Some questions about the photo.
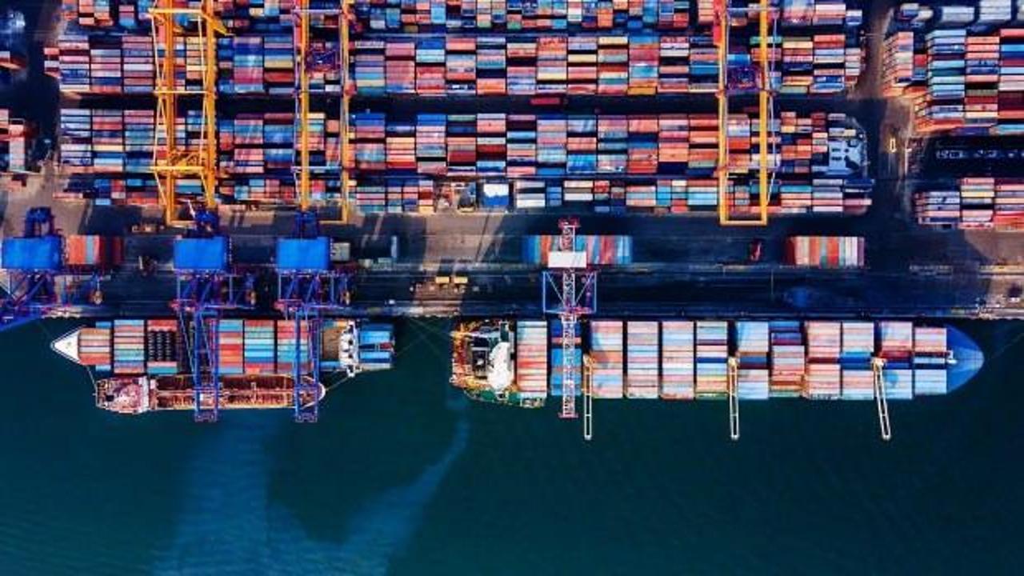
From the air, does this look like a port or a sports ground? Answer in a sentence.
What you see here is a port.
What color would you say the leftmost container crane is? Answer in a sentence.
The leftmost container crane looks blue in the image.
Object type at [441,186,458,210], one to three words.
work vehicle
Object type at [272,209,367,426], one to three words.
container crane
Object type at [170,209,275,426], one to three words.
container crane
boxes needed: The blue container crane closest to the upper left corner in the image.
[0,209,133,338]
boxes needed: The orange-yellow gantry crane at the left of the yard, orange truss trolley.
[149,0,241,223]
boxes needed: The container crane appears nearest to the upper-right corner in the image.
[706,0,784,223]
